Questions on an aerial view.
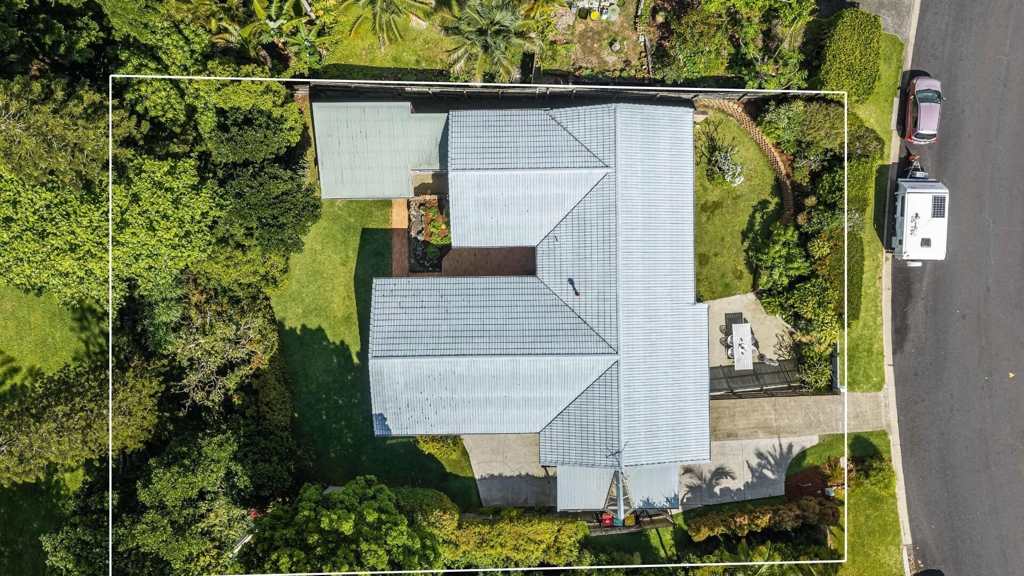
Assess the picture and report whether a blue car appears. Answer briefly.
No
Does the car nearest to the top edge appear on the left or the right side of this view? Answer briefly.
right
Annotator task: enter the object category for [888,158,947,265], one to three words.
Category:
camper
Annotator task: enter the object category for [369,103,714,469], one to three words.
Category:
house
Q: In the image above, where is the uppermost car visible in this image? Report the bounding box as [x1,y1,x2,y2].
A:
[901,76,946,146]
